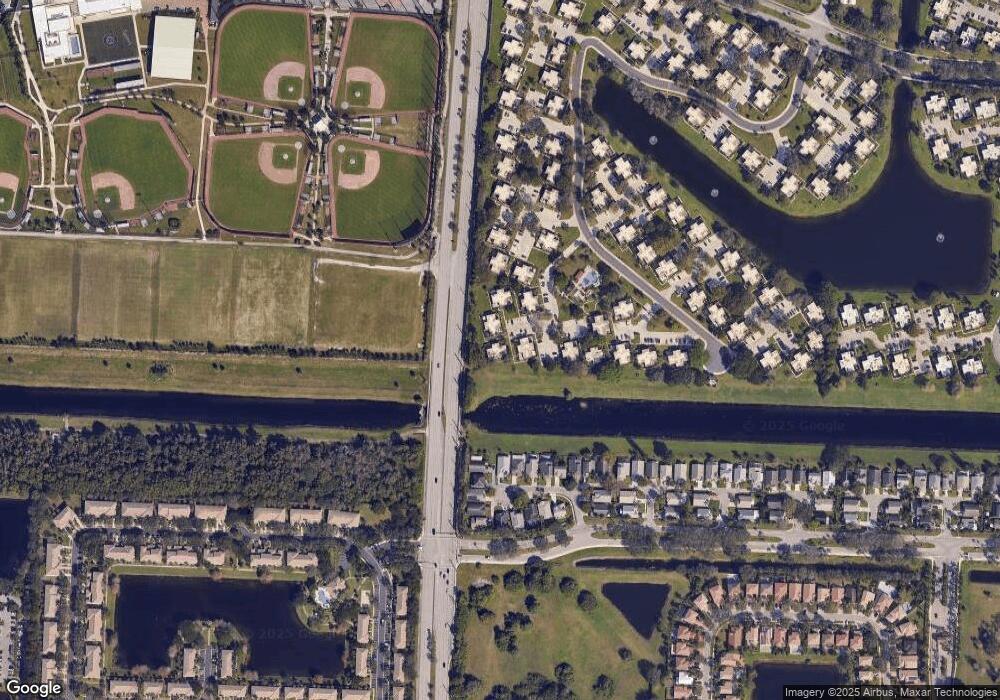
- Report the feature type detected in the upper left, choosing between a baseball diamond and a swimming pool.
baseball diamond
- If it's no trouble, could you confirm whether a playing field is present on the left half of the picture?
Yes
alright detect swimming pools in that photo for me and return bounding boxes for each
[314,587,331,608]
[579,266,600,288]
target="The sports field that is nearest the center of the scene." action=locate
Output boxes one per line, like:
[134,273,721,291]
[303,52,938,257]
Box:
[314,263,421,353]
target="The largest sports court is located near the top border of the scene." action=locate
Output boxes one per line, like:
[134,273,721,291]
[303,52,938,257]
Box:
[82,16,139,63]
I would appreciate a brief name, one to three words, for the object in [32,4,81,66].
building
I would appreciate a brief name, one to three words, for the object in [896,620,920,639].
house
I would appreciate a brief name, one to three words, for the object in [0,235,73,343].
sports field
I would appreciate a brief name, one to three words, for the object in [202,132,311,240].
baseball field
